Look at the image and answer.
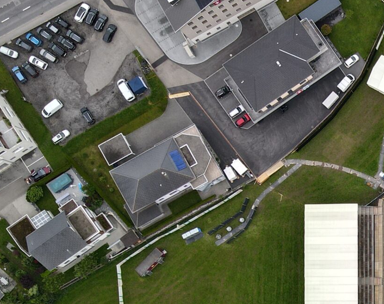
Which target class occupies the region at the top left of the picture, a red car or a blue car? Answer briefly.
blue car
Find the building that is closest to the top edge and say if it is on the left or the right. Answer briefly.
right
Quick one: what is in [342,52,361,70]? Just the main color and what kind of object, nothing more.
white car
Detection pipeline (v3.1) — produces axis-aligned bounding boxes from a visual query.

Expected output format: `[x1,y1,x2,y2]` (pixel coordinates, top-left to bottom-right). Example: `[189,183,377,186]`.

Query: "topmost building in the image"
[299,0,342,22]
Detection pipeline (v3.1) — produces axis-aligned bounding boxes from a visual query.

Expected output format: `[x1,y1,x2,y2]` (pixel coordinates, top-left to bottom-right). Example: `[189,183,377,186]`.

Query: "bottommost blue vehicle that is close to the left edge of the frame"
[13,65,28,84]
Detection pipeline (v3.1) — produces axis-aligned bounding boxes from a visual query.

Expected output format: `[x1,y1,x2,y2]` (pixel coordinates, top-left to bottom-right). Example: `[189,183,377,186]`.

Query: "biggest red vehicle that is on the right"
[234,113,251,128]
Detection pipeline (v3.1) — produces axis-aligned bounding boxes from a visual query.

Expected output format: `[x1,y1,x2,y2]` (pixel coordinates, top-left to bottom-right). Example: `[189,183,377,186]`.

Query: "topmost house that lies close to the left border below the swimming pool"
[7,199,115,271]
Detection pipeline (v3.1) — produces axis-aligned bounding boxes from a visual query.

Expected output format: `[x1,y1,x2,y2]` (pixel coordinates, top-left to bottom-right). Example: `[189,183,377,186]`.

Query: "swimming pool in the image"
[49,172,72,190]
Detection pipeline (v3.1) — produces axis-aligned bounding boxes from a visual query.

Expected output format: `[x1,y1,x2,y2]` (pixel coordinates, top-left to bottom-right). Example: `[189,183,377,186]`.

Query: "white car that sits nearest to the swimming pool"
[51,128,71,144]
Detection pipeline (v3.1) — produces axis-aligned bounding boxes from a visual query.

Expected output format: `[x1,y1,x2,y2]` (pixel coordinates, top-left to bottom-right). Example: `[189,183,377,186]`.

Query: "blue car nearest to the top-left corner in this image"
[26,31,43,48]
